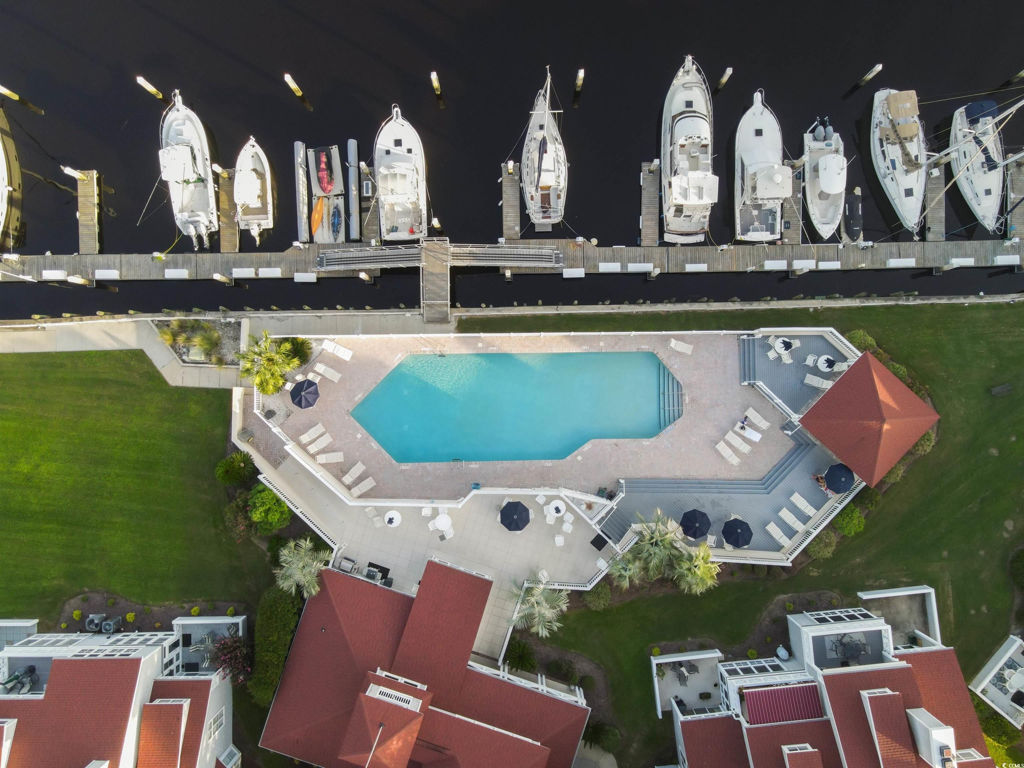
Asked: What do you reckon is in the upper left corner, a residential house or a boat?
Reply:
boat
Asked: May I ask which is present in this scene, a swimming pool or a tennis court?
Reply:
swimming pool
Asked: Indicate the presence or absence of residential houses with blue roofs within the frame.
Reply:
No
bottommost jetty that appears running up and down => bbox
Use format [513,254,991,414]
[422,238,452,323]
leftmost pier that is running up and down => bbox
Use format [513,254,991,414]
[76,171,101,254]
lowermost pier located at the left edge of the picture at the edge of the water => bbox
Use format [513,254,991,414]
[0,243,381,283]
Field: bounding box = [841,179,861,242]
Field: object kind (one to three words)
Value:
boat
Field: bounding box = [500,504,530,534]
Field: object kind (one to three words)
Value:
umbrella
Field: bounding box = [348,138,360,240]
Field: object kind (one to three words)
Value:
pier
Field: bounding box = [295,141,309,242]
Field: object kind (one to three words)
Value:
pier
